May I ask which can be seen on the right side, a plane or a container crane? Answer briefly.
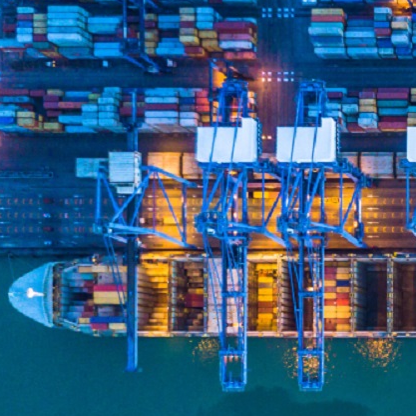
container crane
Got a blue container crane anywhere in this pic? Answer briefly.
Yes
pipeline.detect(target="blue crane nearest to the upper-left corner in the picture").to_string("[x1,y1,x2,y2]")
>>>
[118,0,164,70]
